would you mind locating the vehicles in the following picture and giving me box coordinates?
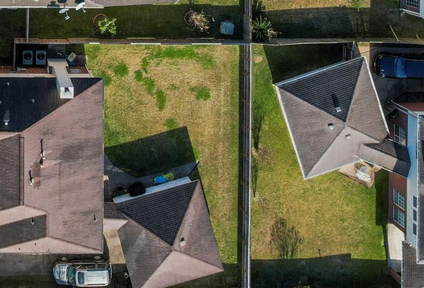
[369,52,424,82]
[51,255,113,287]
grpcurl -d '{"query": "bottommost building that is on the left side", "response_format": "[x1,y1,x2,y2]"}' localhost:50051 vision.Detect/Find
[105,175,225,288]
